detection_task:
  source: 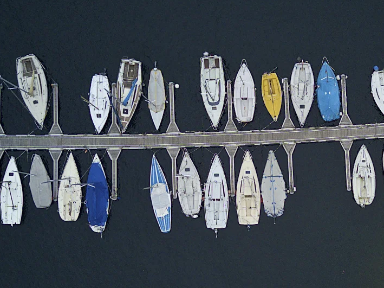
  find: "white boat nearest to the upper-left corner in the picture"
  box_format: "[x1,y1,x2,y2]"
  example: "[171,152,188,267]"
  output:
[0,52,49,134]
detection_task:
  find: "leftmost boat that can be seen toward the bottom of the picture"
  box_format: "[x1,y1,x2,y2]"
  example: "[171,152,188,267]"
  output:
[0,147,28,228]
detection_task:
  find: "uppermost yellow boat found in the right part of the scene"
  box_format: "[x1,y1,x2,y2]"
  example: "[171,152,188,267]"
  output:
[261,70,284,128]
